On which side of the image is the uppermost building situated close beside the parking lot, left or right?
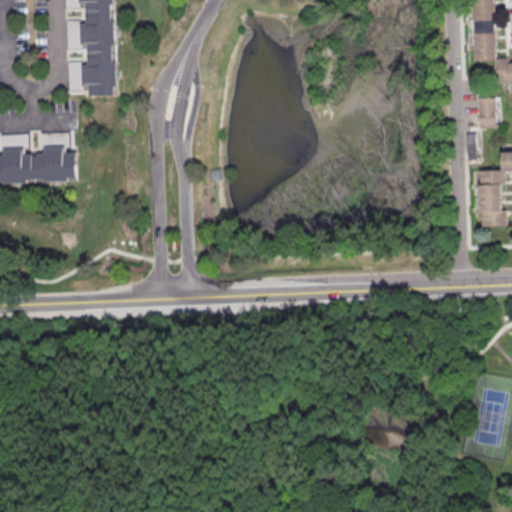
left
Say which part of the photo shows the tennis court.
bottom right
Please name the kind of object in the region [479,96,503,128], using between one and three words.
house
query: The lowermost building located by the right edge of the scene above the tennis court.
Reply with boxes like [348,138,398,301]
[478,170,510,226]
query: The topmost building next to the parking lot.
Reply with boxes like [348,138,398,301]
[65,0,120,98]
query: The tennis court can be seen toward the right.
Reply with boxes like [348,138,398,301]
[466,376,512,462]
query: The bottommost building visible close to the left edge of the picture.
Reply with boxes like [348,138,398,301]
[0,130,78,187]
